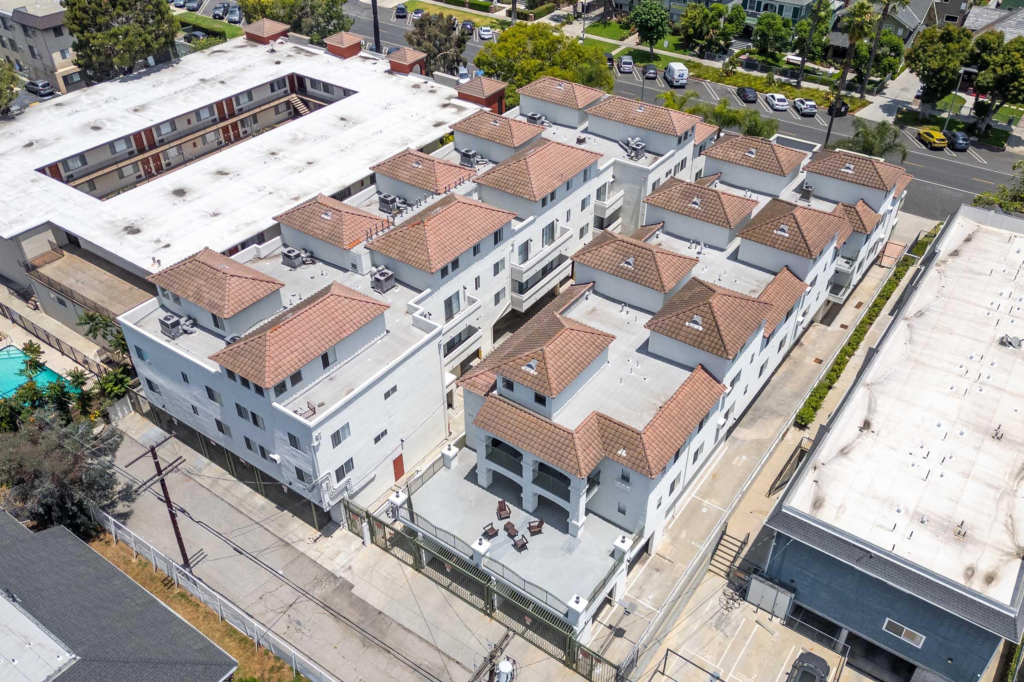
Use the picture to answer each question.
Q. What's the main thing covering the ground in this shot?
buildings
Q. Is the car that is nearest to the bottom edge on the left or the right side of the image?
right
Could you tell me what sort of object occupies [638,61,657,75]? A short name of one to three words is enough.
car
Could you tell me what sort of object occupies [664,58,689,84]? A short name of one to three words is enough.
vehicle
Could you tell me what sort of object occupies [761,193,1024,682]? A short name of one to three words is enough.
building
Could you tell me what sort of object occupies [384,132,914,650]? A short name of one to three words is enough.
building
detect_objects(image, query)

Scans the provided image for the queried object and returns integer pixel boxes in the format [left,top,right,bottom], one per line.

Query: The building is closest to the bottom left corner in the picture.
[0,491,241,682]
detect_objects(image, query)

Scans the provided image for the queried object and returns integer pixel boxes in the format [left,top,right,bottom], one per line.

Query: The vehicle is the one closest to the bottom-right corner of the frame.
[778,637,828,682]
